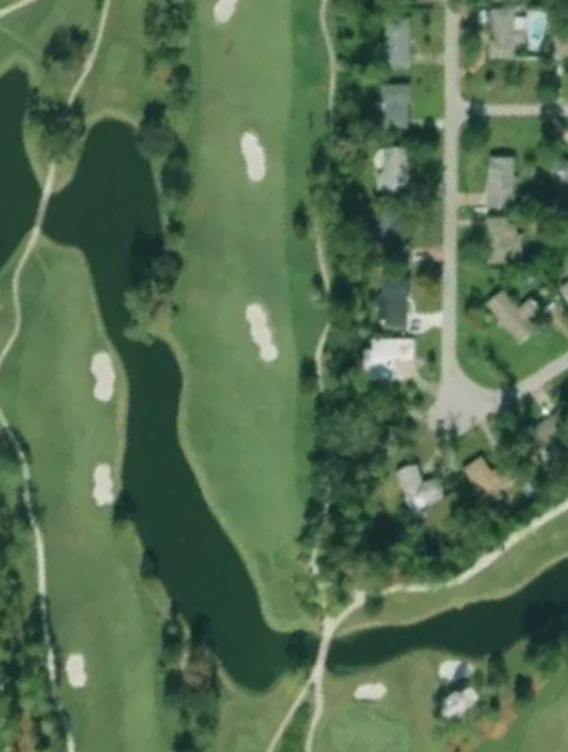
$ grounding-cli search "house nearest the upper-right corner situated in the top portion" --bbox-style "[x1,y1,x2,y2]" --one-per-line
[488,10,530,59]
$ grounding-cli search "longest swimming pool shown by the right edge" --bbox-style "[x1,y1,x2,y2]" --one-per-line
[527,10,547,51]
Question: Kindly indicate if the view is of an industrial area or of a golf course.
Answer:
golf course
